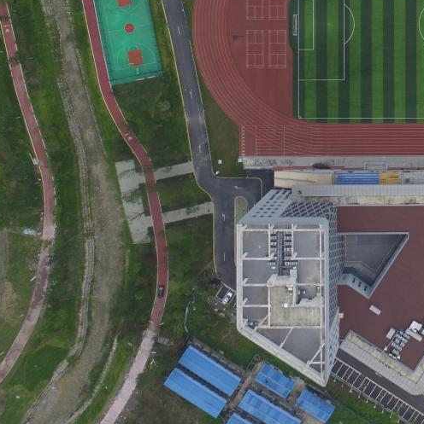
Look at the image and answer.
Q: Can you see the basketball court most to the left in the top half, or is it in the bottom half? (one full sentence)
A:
The basketball court most to the left sits in the top half of the picture.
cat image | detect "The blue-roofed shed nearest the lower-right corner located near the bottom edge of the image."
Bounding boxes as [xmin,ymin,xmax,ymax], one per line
[296,384,335,423]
